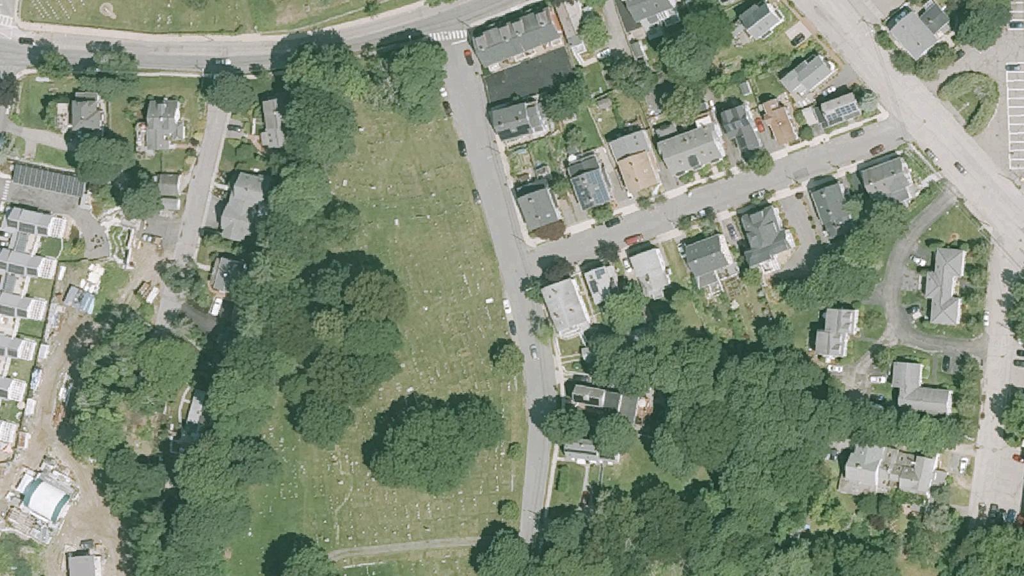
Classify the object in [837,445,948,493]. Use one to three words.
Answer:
house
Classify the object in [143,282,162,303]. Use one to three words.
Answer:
vehicle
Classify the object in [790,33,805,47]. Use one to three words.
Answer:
car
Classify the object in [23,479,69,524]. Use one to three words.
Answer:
building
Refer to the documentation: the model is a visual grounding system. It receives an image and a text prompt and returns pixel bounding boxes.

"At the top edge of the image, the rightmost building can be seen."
[890,3,951,60]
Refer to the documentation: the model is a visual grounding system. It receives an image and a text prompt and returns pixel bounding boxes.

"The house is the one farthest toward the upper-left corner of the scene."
[72,92,105,130]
